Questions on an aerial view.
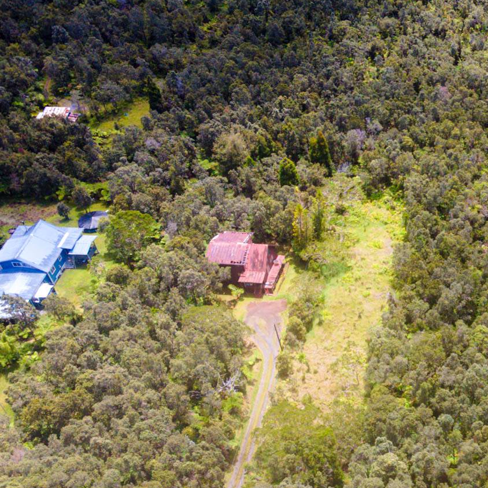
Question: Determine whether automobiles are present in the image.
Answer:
No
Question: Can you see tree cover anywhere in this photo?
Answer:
Yes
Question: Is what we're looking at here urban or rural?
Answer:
rural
